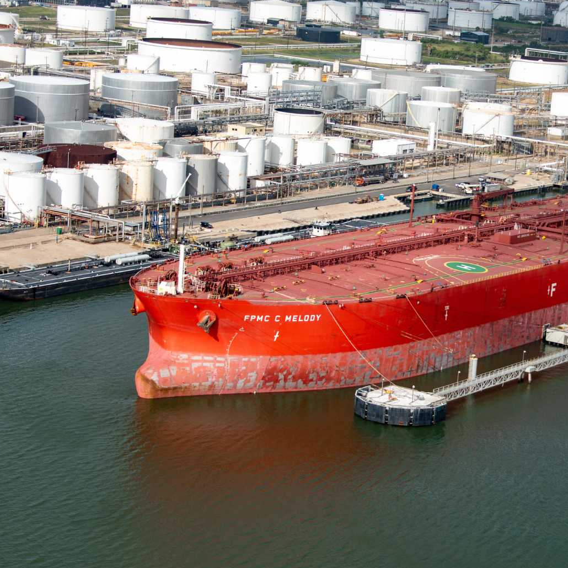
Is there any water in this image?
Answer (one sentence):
Yes, some water is visible.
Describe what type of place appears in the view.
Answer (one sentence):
The picture captures an industrial area.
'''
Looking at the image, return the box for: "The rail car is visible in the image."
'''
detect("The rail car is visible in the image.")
[175,125,199,137]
